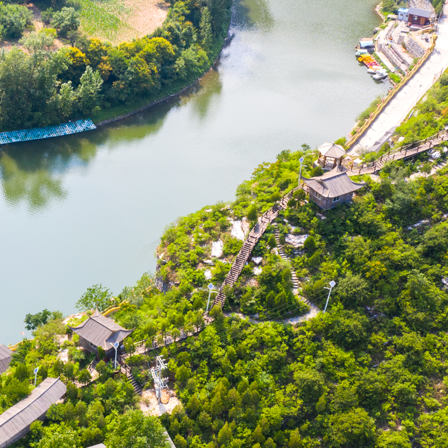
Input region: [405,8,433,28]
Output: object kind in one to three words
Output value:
building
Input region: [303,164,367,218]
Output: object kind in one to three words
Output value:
shed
